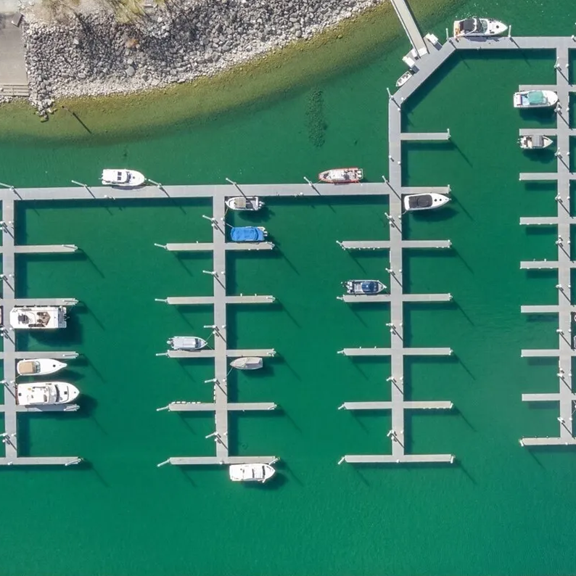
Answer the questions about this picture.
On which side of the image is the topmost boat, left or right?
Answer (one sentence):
You can find the topmost boat on the right side of the picture.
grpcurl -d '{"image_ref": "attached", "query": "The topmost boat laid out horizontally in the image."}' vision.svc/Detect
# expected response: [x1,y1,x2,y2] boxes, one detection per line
[452,18,508,39]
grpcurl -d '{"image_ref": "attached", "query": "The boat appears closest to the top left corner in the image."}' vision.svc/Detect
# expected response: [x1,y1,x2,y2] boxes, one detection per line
[100,170,151,187]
